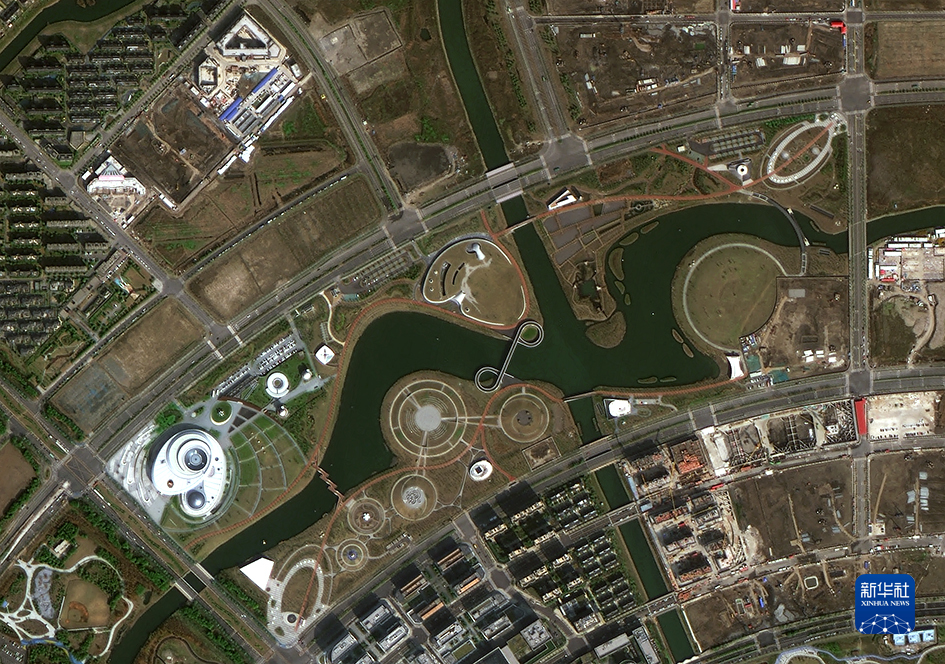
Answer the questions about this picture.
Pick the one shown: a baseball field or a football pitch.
baseball field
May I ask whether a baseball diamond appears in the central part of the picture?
No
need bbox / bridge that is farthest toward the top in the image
[484,163,528,202]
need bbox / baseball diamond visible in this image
[64,575,111,631]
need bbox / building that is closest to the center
[422,238,525,325]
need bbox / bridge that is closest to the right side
[849,221,867,256]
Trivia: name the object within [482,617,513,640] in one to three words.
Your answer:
building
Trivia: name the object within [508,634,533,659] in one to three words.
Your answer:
building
